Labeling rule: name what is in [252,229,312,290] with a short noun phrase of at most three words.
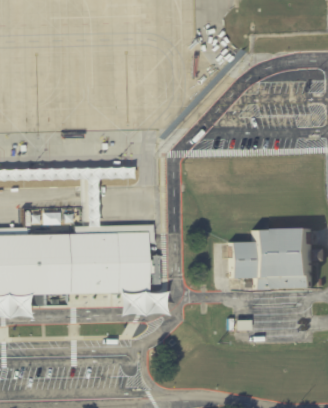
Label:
hangar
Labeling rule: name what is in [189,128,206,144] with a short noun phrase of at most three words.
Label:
vehicle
